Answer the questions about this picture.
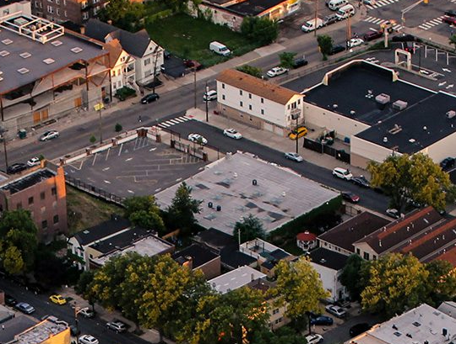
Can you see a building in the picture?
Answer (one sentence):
Yes, there's a building here.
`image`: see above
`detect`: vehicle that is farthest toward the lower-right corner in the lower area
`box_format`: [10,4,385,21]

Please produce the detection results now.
[347,322,372,338]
